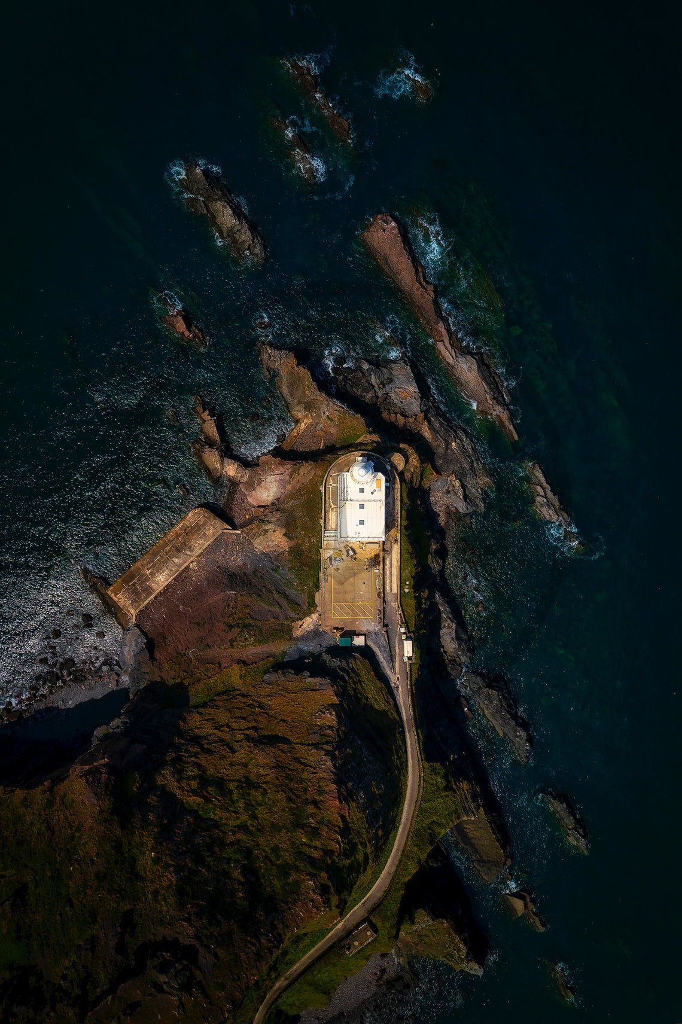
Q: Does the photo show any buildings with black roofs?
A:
No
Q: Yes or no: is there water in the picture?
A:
Yes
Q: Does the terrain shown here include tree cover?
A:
No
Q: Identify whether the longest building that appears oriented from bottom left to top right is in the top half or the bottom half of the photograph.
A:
bottom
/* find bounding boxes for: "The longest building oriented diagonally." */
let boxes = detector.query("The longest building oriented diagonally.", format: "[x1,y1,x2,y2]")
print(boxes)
[341,917,378,956]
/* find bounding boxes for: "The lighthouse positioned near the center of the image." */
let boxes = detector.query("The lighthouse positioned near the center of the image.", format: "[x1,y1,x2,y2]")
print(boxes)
[338,457,389,541]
